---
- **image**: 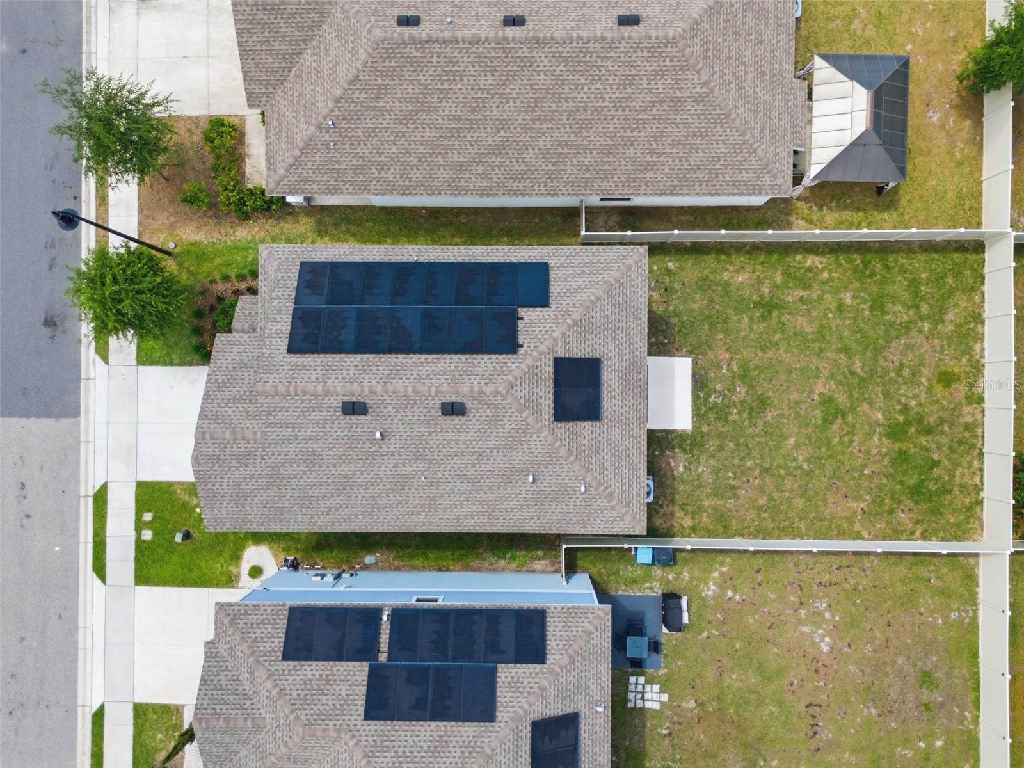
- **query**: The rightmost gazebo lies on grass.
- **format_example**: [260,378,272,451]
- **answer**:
[785,53,910,200]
